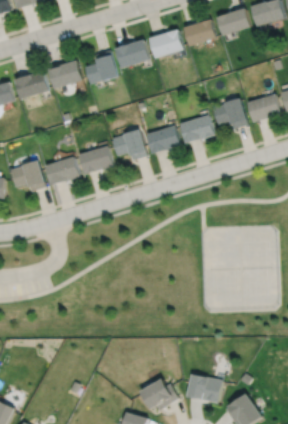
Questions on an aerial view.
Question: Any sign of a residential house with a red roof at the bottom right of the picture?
No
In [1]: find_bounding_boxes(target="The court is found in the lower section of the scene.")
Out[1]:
[204,226,282,312]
